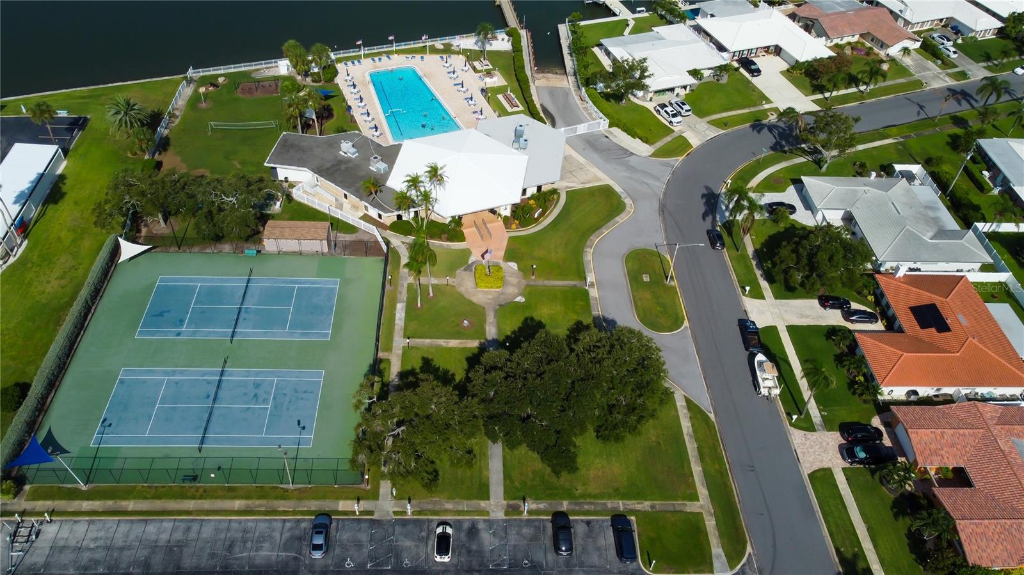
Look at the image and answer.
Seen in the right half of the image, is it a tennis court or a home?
home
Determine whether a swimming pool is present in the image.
Yes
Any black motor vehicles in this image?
Yes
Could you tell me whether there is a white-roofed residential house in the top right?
Yes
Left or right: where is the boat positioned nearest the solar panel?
right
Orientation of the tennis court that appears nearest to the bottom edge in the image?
from side to side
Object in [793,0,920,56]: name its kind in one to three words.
house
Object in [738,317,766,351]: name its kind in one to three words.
truck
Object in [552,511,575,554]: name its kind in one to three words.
car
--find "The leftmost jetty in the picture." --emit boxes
[498,0,520,31]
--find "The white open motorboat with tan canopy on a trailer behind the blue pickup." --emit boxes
[758,351,787,401]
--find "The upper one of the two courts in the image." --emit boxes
[135,267,340,344]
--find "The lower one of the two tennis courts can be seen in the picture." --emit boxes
[91,358,325,453]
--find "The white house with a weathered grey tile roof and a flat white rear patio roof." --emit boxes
[800,175,993,273]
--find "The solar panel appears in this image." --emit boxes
[909,304,952,333]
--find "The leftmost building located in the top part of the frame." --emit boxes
[0,144,73,286]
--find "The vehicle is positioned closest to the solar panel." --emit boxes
[844,308,881,326]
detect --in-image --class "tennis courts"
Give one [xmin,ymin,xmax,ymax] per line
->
[91,358,325,453]
[135,267,340,344]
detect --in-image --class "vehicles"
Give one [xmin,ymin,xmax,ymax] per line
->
[611,515,640,562]
[309,512,331,557]
[818,292,854,309]
[656,102,684,124]
[768,201,798,214]
[740,56,762,74]
[844,308,881,326]
[552,511,575,554]
[738,317,766,351]
[433,522,454,560]
[841,422,887,445]
[669,100,693,116]
[707,227,727,250]
[1014,63,1024,73]
[845,444,900,466]
[931,33,955,45]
